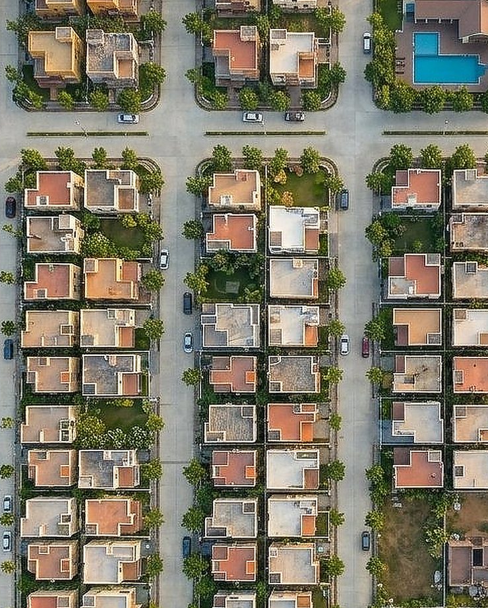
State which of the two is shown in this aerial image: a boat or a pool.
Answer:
pool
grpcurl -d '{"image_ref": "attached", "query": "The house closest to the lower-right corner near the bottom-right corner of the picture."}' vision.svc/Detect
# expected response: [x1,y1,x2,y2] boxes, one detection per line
[446,538,488,587]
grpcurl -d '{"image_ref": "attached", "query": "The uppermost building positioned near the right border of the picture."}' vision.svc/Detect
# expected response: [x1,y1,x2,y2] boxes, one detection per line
[414,0,488,44]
